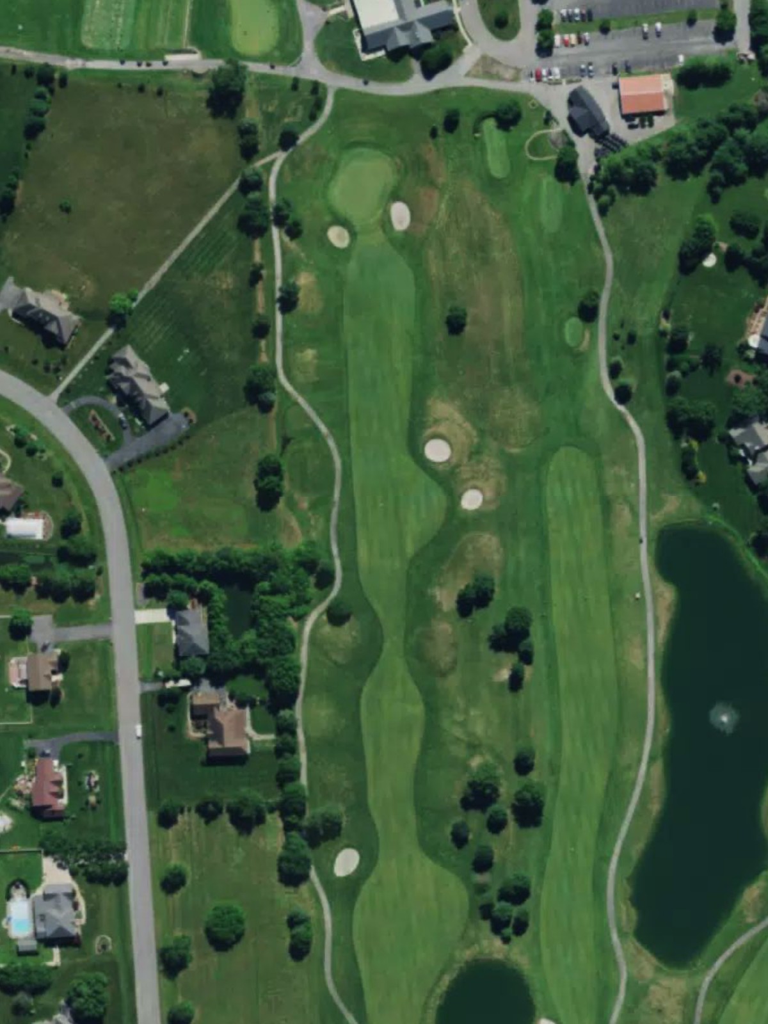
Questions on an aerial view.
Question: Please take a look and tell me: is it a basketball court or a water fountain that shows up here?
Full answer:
There is a water fountain in the scene.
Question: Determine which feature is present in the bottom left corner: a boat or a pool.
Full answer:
Looking in the bottom left corner, you will find a pool.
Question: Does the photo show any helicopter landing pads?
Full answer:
No, no helicopter landing pad can be seen from above.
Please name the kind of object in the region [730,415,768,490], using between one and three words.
house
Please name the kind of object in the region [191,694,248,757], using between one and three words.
house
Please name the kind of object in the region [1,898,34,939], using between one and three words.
swimming pool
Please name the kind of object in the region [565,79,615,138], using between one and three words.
building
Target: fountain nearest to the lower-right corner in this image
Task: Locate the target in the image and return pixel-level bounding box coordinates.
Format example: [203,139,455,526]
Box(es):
[710,705,738,733]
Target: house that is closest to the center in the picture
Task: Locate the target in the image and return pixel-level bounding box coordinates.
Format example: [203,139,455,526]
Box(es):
[175,610,208,656]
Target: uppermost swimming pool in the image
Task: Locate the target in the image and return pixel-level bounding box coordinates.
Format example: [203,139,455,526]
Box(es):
[1,512,52,541]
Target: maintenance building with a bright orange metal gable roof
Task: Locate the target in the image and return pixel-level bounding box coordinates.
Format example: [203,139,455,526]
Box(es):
[620,73,666,113]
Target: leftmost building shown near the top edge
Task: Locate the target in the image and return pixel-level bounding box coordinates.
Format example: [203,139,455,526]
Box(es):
[353,0,459,54]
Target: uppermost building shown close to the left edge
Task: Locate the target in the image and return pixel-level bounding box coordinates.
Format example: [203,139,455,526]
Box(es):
[9,285,81,343]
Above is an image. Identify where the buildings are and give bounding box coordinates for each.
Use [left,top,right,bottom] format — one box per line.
[175,610,208,656]
[21,651,63,692]
[730,415,768,490]
[353,0,459,54]
[31,760,64,811]
[191,694,248,757]
[620,73,666,113]
[9,285,81,343]
[757,321,768,359]
[565,79,615,138]
[32,1001,76,1024]
[0,472,23,511]
[107,344,173,430]
[33,882,81,940]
